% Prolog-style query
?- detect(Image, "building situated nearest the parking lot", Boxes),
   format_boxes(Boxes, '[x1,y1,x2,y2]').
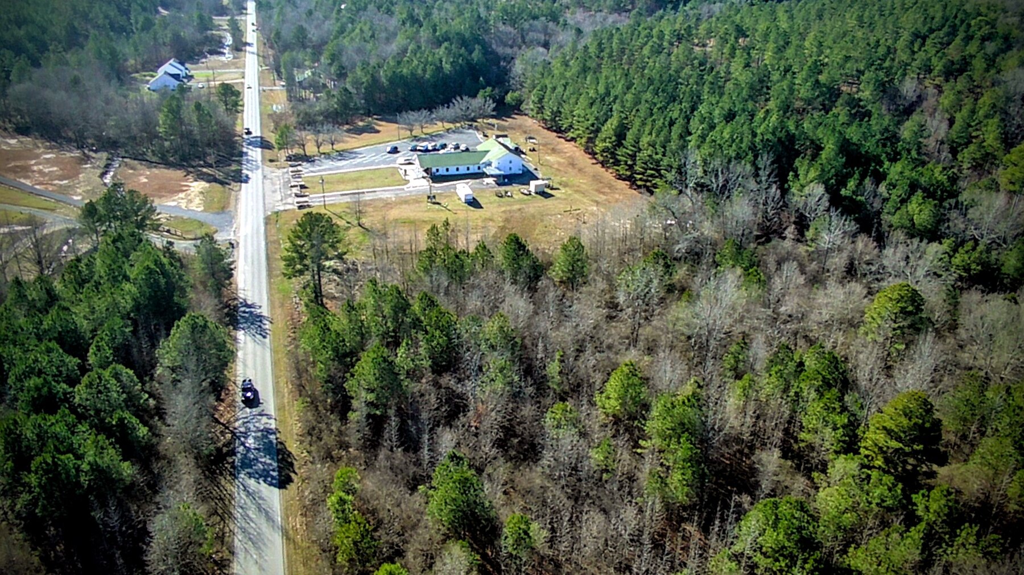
[419,132,528,180]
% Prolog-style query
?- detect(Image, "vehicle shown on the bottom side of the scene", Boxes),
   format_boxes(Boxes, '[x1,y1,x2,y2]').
[239,377,254,402]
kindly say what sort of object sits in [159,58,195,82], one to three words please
house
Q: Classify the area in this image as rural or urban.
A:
rural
